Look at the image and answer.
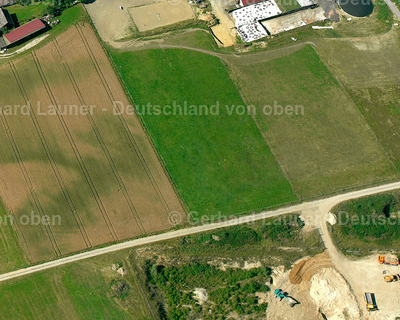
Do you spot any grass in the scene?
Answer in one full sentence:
Yes, the picture does contain grass.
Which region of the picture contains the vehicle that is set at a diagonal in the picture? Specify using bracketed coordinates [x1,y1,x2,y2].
[275,288,298,308]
